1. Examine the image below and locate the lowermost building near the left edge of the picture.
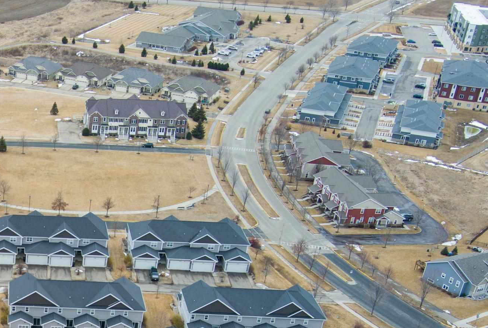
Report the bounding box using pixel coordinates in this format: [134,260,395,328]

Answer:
[4,270,146,328]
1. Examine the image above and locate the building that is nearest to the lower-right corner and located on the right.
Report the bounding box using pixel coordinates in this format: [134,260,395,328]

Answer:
[424,250,488,307]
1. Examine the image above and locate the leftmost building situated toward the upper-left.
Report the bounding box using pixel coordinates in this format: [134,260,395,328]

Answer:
[7,58,63,81]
